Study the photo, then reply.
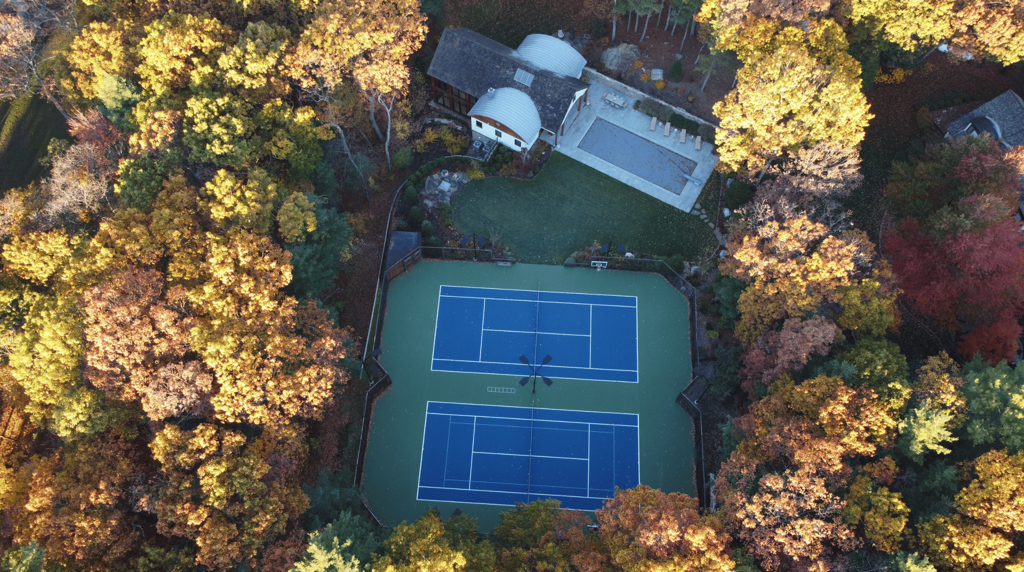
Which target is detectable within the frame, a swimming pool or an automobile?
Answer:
swimming pool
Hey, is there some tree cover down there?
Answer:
Yes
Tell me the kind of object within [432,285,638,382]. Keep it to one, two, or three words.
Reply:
tennis court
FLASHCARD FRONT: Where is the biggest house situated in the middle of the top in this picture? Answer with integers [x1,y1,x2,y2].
[427,27,591,156]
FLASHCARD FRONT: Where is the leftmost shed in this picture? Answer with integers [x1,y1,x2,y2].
[385,231,420,280]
